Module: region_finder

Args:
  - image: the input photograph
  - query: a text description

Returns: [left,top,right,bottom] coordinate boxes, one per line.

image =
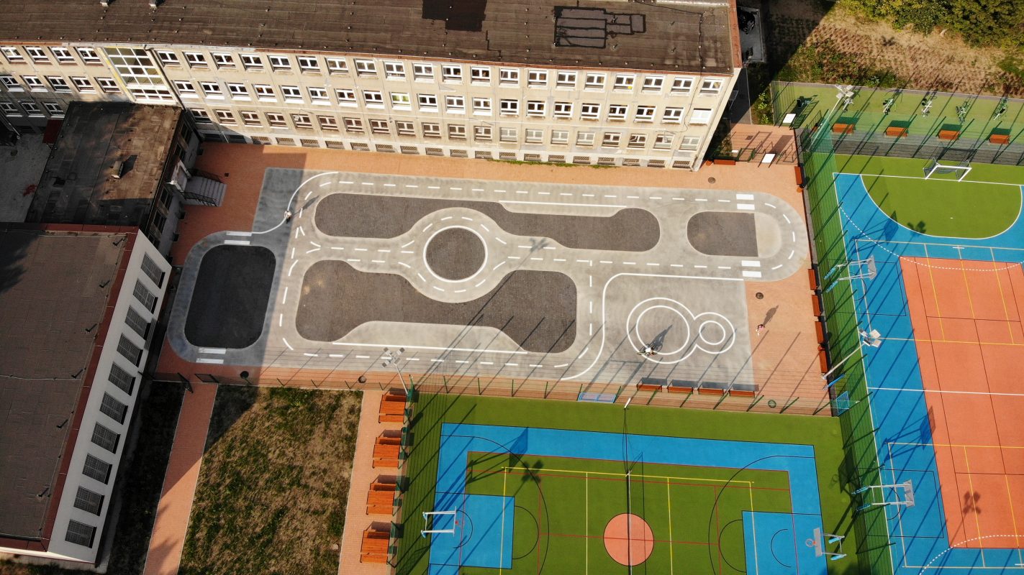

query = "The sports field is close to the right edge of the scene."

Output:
[806,153,1024,575]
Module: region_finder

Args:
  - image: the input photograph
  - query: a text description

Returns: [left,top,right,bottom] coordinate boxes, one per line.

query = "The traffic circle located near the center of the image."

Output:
[409,213,503,298]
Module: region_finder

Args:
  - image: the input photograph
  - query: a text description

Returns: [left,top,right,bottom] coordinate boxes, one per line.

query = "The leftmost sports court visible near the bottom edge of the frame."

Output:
[395,394,871,575]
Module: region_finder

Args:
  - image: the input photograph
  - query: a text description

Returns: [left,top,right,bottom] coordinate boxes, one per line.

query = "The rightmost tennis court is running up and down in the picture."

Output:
[900,257,1024,551]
